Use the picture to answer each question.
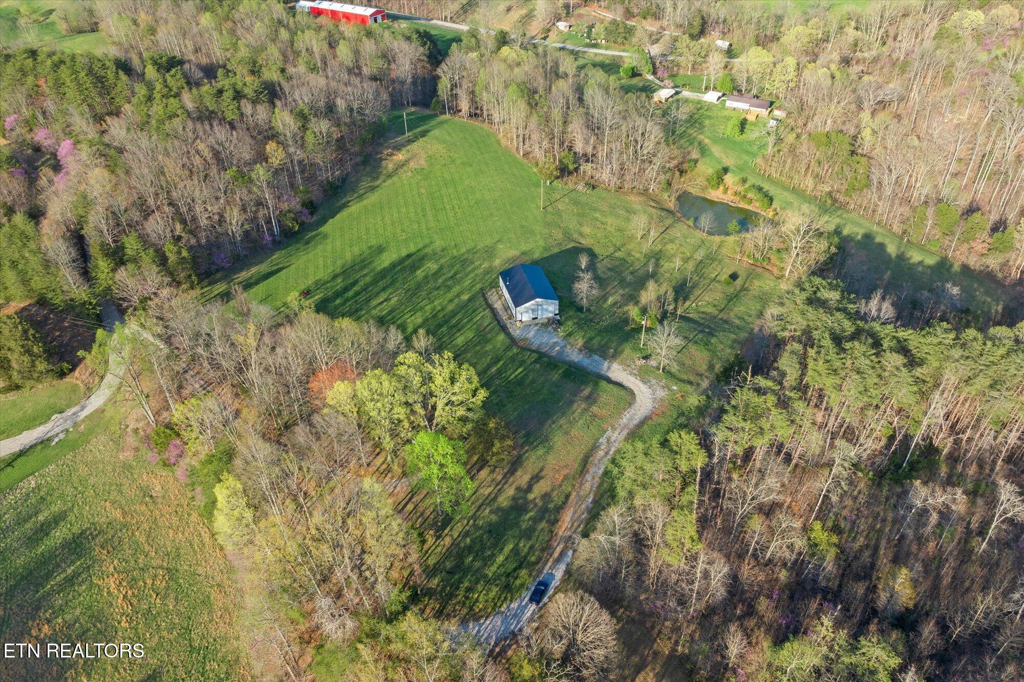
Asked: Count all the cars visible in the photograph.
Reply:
1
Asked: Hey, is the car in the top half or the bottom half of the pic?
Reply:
bottom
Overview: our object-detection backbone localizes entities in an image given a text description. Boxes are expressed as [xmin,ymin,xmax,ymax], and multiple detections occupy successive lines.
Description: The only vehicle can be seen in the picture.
[529,578,549,607]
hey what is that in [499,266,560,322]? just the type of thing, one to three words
barn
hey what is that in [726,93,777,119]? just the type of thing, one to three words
house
